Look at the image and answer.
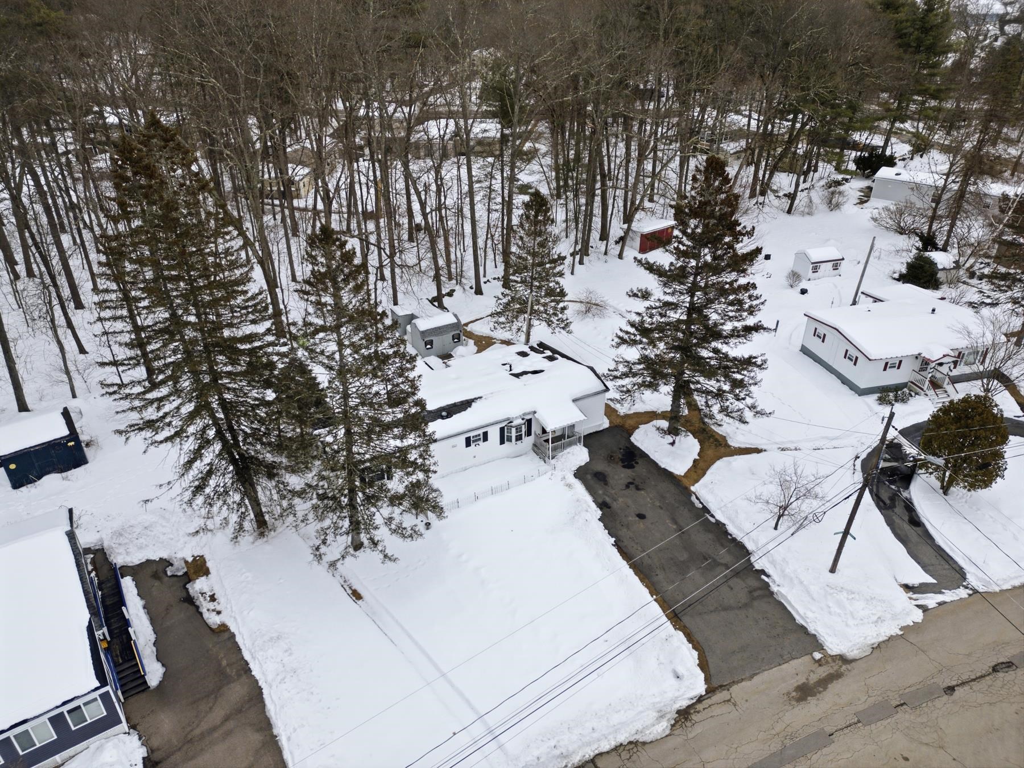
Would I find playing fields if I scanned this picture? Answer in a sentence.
No, there is no playing field in the image.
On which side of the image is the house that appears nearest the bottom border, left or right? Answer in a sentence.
You can find the house that appears nearest the bottom border on the left side of the picture.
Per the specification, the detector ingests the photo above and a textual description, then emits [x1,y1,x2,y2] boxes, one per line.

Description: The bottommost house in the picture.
[0,518,138,768]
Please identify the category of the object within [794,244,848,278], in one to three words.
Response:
shed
